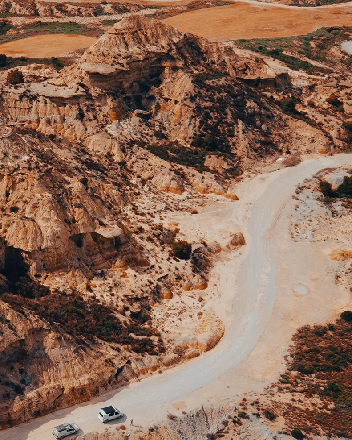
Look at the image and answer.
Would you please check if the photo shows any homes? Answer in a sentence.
No, I find no home anywhere in the image.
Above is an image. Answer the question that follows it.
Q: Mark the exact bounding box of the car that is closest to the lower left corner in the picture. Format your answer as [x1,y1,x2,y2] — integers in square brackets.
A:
[53,423,80,438]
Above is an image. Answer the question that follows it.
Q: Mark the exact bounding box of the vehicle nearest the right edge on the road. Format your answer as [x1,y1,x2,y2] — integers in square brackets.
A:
[98,405,124,423]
